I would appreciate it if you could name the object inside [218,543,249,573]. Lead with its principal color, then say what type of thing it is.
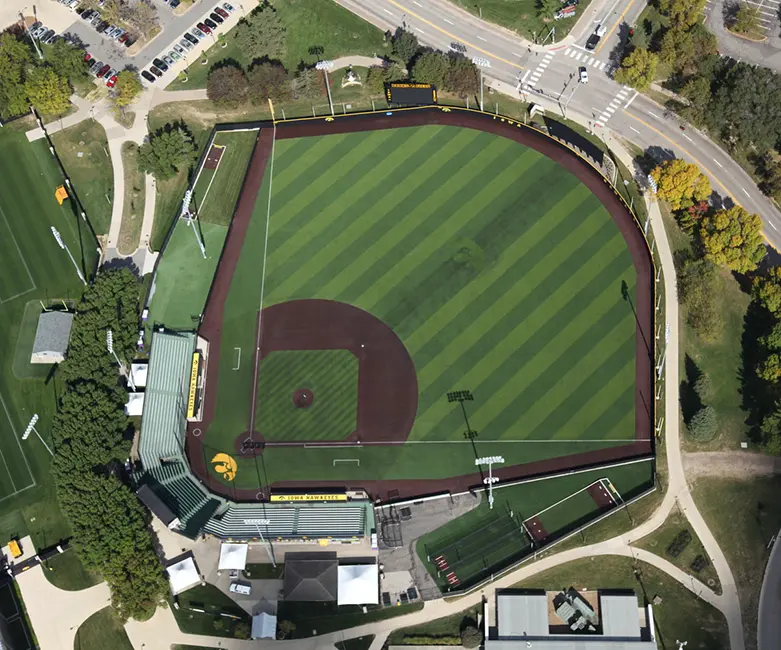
white tent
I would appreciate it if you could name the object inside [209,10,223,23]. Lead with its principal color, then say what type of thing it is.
black vehicle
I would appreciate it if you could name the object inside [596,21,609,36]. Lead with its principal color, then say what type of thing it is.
white vehicle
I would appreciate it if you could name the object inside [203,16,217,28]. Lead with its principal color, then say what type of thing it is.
black vehicle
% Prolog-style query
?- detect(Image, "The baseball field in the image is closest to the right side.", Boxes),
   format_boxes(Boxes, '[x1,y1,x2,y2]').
[185,112,654,509]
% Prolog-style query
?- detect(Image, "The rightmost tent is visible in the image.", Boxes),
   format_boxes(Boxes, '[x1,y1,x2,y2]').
[338,565,378,608]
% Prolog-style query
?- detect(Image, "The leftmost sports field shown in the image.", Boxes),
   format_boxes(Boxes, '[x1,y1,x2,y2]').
[0,111,100,577]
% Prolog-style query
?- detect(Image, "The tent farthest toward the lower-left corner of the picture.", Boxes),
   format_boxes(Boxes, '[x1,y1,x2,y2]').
[168,557,201,599]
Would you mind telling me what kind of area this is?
sports ground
